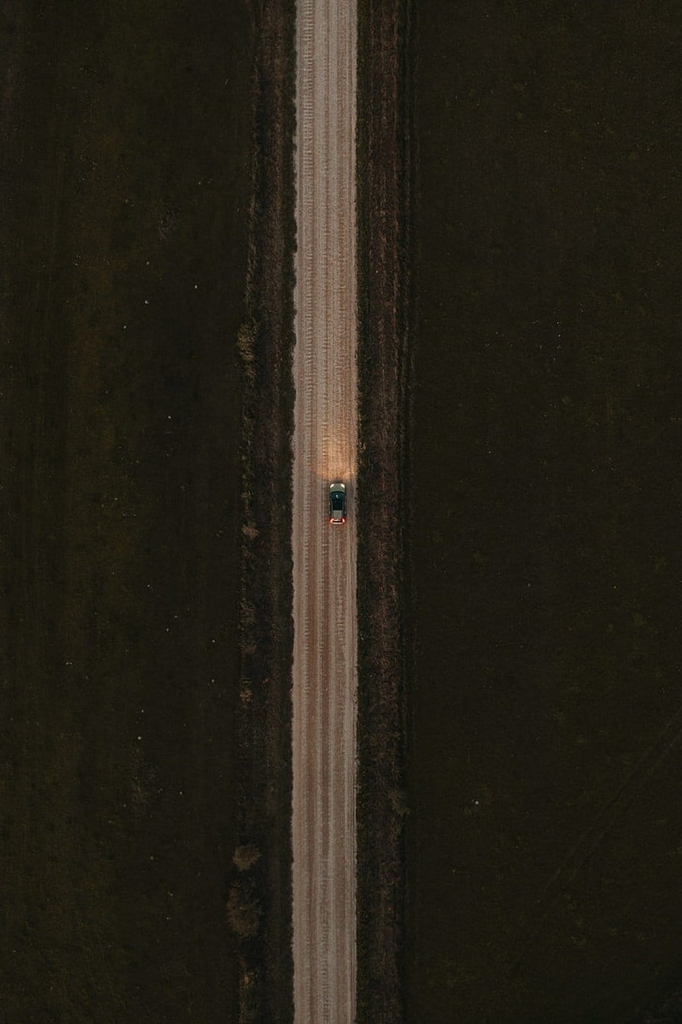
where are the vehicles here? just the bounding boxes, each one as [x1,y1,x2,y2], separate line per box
[328,483,347,525]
